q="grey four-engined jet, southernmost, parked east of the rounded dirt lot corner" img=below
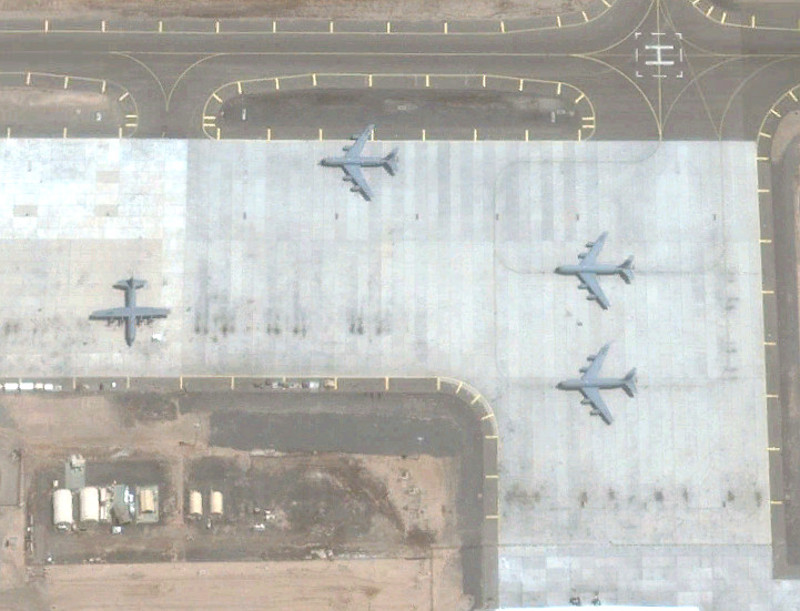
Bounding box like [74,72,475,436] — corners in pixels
[555,345,636,421]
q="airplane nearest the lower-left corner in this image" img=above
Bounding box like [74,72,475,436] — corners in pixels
[93,280,170,346]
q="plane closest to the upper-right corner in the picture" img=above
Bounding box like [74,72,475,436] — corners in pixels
[553,232,634,308]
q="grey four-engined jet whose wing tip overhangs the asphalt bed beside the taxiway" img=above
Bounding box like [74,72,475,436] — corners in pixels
[317,123,398,198]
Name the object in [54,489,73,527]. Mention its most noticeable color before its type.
white tent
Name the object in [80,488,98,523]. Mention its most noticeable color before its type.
white tent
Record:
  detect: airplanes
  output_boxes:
[553,232,634,308]
[317,123,398,198]
[555,345,636,421]
[93,280,170,346]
